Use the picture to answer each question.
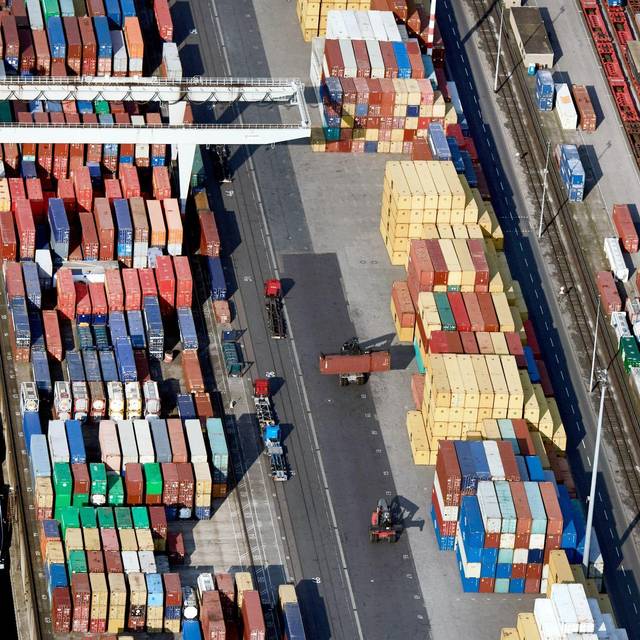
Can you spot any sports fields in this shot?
No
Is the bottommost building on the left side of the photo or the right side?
right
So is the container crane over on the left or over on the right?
left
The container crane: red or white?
white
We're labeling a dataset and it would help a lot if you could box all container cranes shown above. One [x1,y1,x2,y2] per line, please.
[0,72,311,222]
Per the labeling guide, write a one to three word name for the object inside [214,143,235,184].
truck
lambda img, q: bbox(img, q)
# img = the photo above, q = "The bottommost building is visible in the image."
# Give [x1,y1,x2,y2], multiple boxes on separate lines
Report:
[509,6,554,68]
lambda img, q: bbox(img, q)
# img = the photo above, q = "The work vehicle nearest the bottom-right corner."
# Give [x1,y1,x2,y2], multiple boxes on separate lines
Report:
[369,498,398,541]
